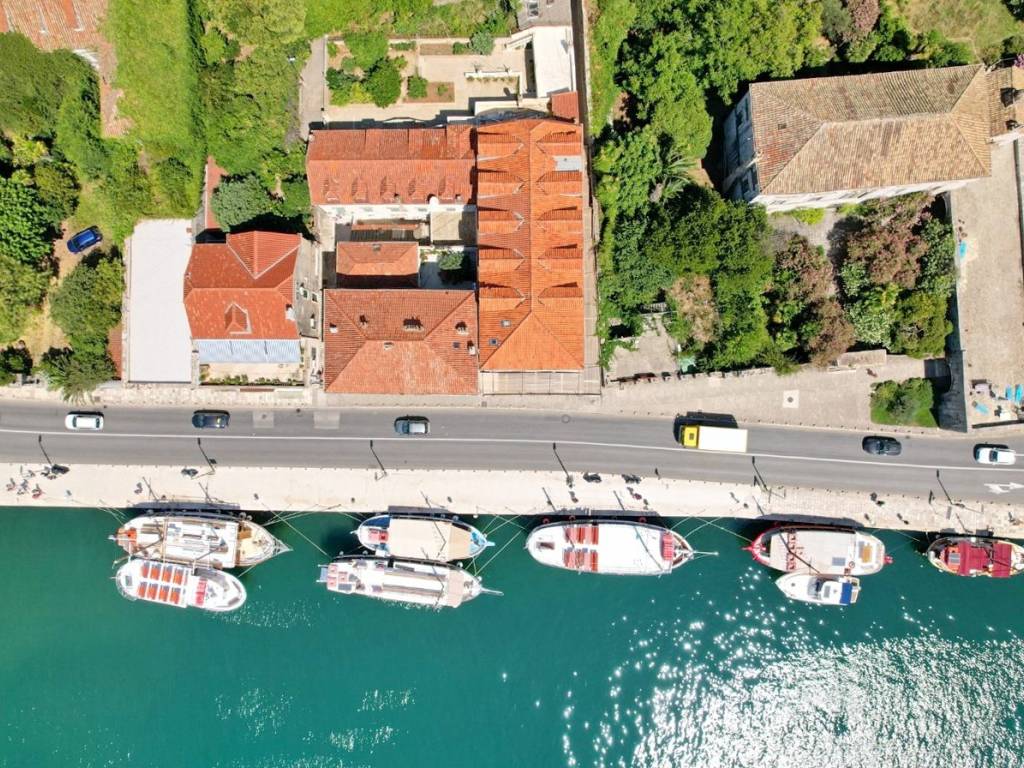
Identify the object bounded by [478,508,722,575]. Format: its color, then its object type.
white boat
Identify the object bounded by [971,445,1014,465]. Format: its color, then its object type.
white car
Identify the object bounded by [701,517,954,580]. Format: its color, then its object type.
white boat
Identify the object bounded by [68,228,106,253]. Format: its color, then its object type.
blue car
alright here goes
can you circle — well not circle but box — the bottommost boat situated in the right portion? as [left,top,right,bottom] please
[774,572,862,606]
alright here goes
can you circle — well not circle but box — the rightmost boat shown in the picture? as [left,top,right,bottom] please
[921,530,1024,577]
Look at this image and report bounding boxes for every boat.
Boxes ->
[774,572,862,606]
[701,517,954,580]
[478,508,722,575]
[101,504,342,573]
[110,558,249,609]
[339,508,568,561]
[289,512,523,607]
[921,530,1024,577]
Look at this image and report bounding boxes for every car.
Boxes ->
[68,228,106,253]
[971,445,1014,465]
[69,411,108,431]
[859,436,900,455]
[194,410,232,429]
[395,417,430,436]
